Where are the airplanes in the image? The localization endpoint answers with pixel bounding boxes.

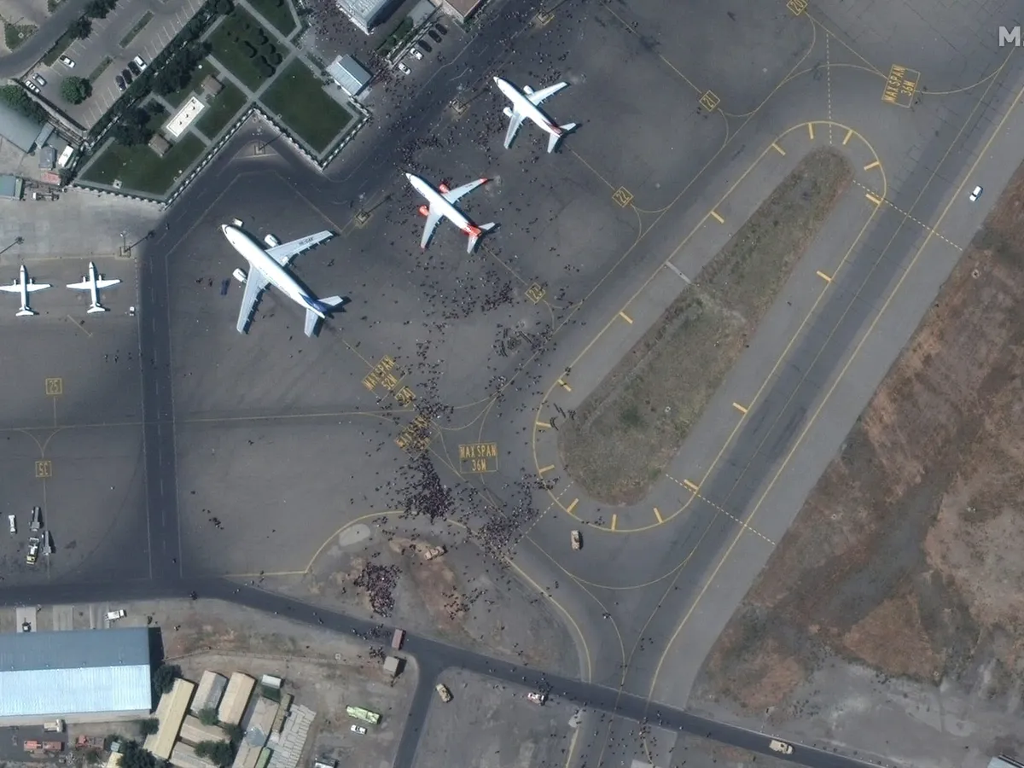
[222,224,344,335]
[493,77,576,151]
[0,266,50,316]
[66,262,120,313]
[406,173,498,251]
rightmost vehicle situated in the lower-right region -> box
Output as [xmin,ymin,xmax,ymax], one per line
[768,740,792,754]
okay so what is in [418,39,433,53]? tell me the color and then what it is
black car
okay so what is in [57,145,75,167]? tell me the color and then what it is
white vehicle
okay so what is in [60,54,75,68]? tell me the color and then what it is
white vehicle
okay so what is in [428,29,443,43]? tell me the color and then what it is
black car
